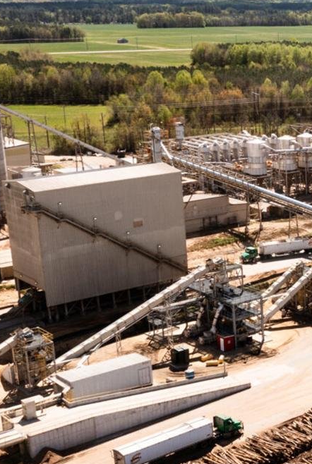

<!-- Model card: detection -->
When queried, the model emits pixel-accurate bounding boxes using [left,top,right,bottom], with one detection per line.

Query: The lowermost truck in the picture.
[115,421,244,464]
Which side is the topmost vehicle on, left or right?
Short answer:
right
